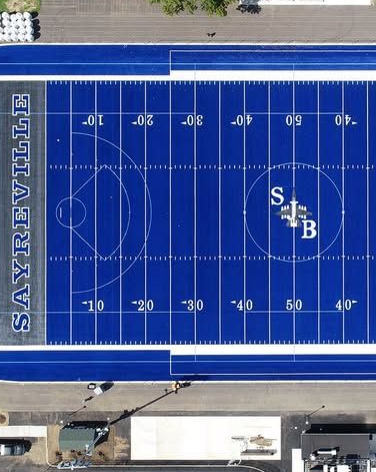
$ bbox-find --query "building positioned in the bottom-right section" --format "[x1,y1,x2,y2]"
[303,430,369,472]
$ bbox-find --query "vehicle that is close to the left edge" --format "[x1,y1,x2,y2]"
[0,441,31,457]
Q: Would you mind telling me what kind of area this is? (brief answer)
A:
sports ground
